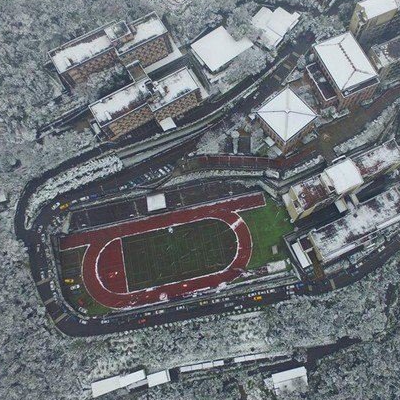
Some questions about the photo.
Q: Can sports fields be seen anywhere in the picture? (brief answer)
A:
Yes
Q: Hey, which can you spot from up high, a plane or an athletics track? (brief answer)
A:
athletics track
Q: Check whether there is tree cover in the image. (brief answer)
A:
Yes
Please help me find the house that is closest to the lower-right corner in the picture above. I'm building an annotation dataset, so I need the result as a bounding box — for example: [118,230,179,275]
[264,364,310,395]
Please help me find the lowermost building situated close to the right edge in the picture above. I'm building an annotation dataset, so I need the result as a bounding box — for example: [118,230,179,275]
[308,187,400,263]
